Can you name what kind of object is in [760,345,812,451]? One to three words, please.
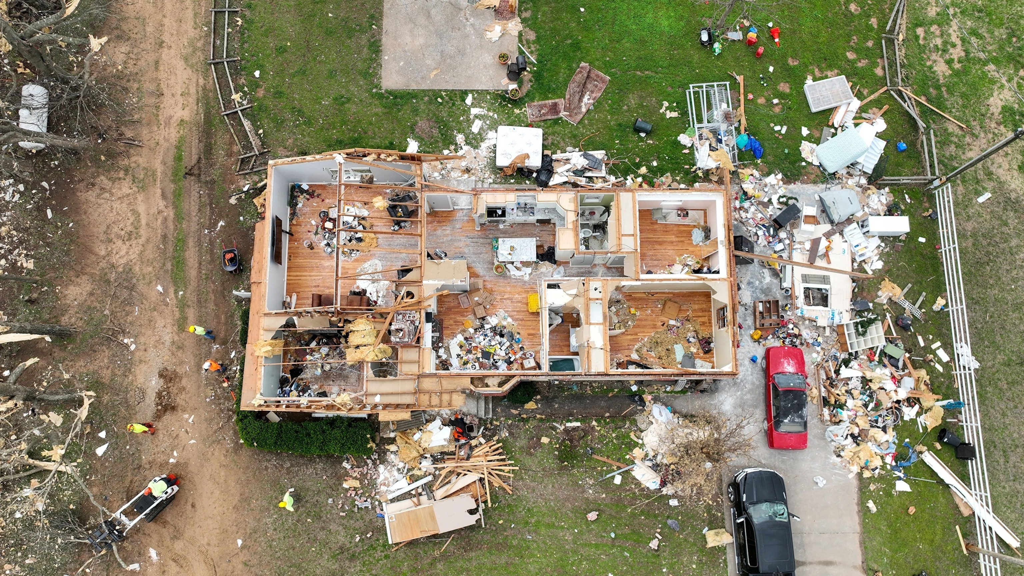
car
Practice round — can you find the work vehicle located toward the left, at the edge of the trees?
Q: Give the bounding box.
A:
[94,468,183,552]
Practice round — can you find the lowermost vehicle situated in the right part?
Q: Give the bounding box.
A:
[730,461,801,576]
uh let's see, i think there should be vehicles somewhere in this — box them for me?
[94,468,183,552]
[760,345,812,451]
[730,461,801,576]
